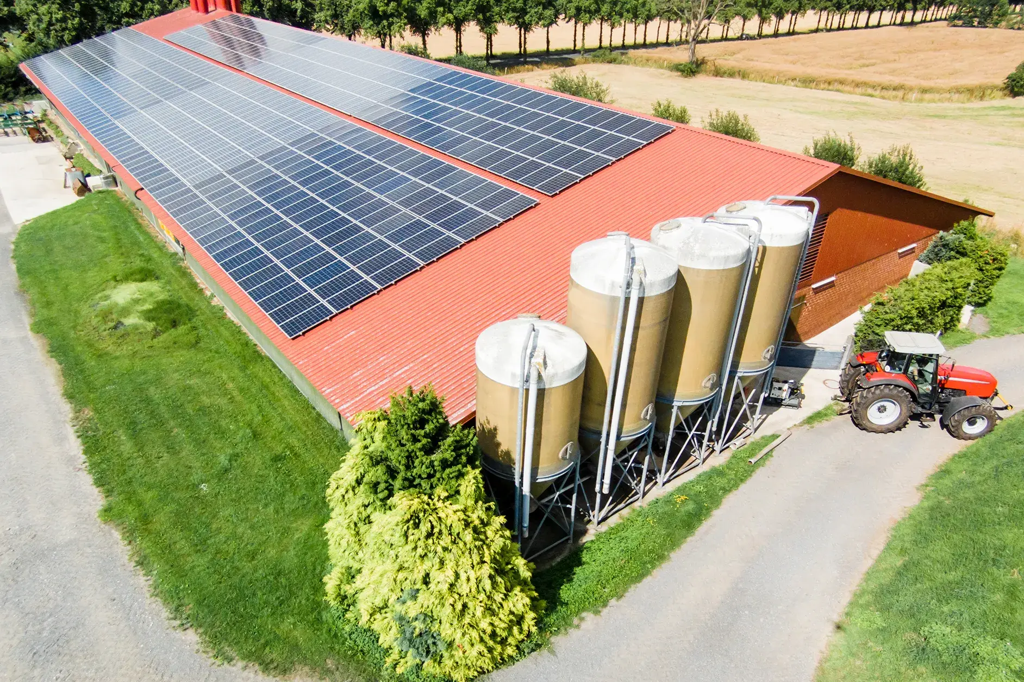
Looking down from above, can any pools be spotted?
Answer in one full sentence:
No, I can't see a single pool in this photo.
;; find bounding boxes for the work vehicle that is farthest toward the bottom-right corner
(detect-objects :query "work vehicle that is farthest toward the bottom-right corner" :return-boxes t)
[823,331,1012,441]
